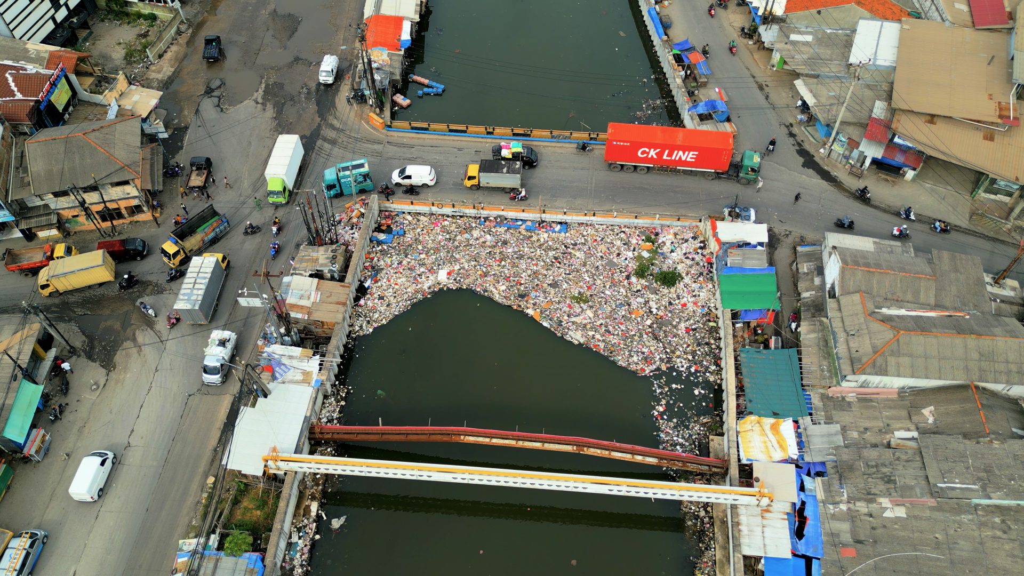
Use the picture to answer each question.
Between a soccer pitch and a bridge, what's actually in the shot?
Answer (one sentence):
This aerial view contains a bridge.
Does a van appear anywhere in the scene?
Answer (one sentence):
Yes, a van is visible in the scene.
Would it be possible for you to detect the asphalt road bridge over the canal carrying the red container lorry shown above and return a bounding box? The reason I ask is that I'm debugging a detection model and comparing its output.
[376,125,707,237]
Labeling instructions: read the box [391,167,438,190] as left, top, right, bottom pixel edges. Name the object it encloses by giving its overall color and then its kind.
white car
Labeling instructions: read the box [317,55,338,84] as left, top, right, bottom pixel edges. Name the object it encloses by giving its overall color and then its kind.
white truck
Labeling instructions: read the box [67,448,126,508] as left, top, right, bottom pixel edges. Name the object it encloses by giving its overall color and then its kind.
white van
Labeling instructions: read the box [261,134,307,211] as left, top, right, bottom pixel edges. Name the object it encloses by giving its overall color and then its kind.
white truck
